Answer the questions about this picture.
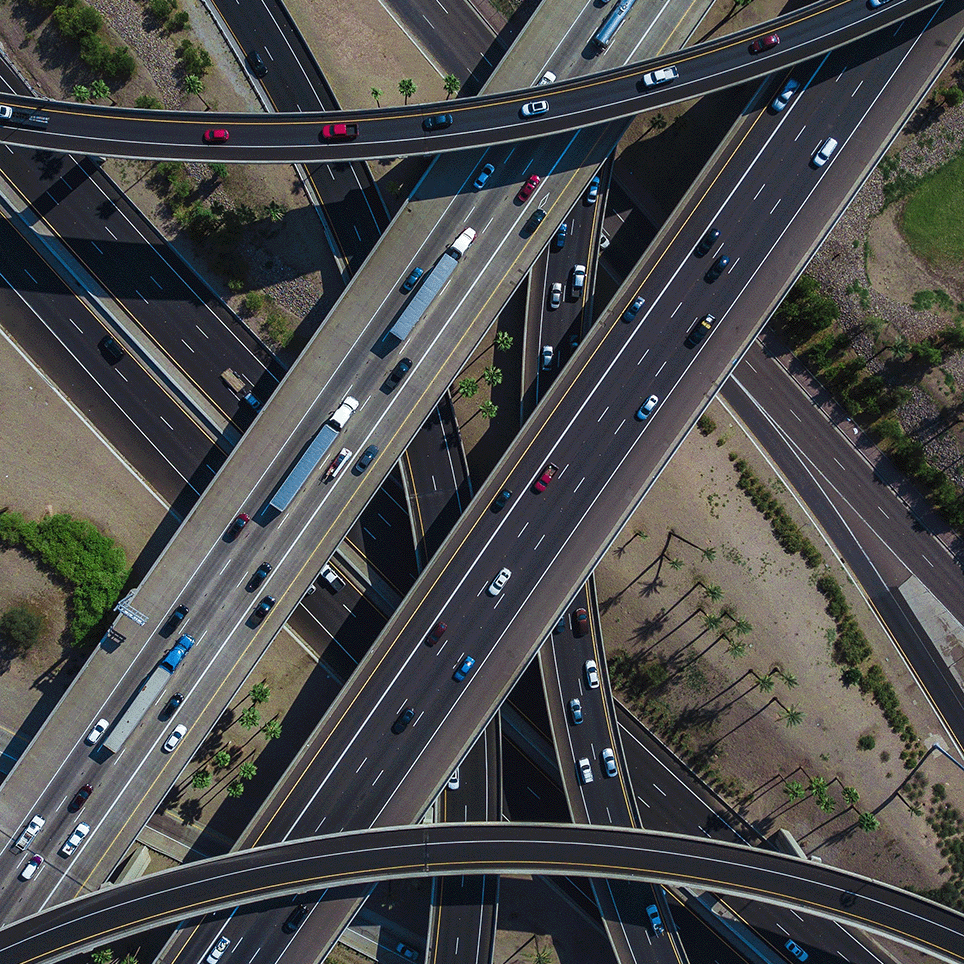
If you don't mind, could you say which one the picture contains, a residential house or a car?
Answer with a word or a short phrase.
car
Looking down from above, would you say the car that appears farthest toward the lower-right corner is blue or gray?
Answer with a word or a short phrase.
blue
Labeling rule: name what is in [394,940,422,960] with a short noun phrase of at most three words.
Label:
car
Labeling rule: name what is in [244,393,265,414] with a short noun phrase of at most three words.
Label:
vehicle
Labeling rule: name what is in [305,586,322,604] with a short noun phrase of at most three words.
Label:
car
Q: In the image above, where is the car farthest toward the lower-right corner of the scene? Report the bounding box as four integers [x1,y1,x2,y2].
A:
[784,939,809,961]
